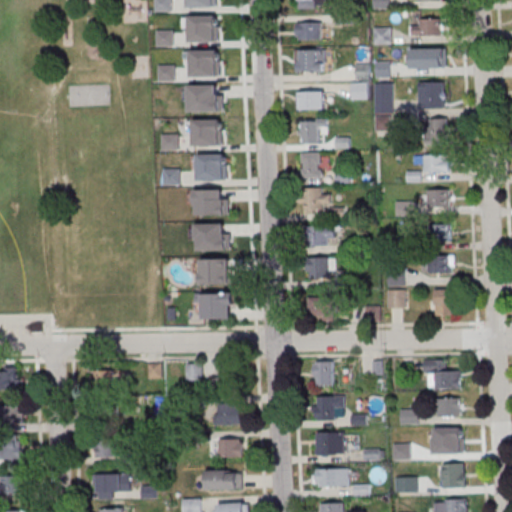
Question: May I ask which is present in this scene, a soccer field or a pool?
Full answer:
This aerial view contains a pool.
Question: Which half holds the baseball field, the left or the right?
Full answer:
The baseball field sits on the left side.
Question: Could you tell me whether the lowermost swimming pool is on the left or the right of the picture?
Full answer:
The lowermost swimming pool sits on the right side.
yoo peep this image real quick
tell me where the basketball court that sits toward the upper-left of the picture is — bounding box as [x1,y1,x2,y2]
[67,85,110,108]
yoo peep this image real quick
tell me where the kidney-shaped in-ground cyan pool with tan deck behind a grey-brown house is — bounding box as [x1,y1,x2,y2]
[168,259,196,288]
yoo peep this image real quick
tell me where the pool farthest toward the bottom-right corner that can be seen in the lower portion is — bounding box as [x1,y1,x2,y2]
[368,466,388,486]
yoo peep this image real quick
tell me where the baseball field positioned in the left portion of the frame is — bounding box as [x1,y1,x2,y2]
[0,213,27,312]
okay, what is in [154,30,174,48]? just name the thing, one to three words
building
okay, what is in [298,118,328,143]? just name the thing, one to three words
house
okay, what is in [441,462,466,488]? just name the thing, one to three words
house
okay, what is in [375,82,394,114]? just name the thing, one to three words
building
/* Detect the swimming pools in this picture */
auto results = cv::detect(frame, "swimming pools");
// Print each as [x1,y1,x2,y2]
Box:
[368,466,388,486]
[368,398,384,414]
[168,259,196,288]
[390,12,402,26]
[391,48,402,60]
[356,46,368,60]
